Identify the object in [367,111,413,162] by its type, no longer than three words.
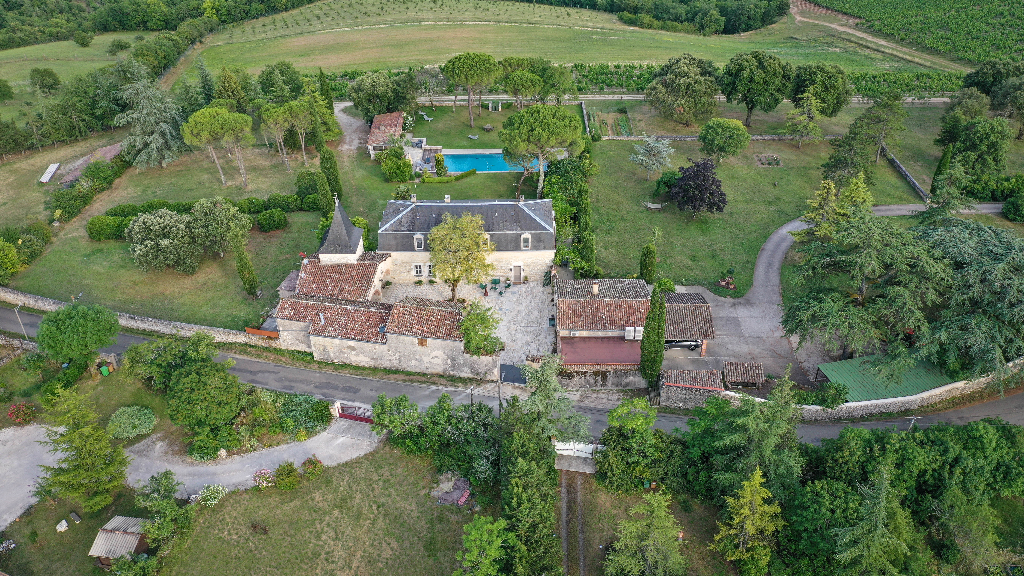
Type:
building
